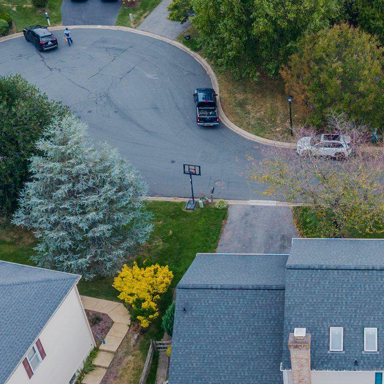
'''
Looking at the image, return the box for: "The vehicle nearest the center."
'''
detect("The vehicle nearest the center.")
[191,90,219,130]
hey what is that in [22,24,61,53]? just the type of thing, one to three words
car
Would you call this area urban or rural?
urban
